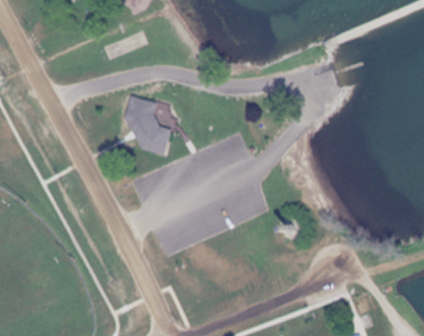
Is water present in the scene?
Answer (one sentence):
Yes, the picture does contain water.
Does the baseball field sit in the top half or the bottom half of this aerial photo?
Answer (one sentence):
You can find the baseball field in the bottom half.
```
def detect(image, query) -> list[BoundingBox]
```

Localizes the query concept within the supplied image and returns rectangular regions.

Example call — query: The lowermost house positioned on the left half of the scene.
[125,94,170,156]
